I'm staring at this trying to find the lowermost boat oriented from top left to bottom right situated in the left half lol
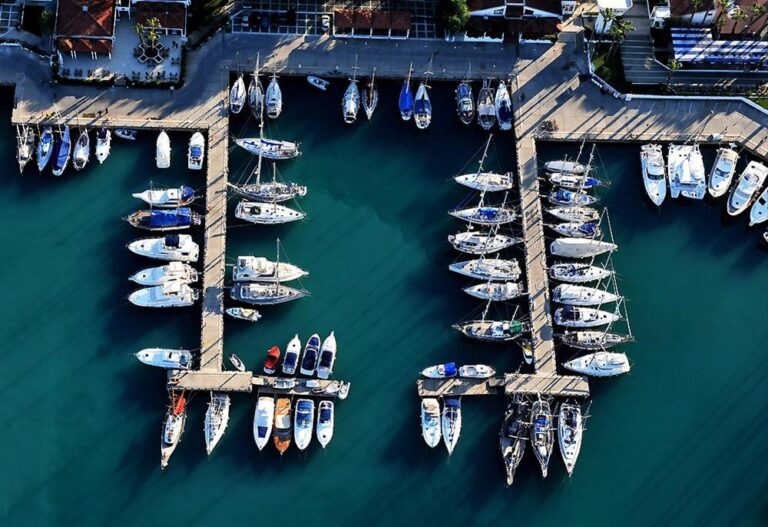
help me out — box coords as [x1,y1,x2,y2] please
[228,353,245,370]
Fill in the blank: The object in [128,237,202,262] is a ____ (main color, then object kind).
white boat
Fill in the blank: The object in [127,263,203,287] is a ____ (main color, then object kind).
white boat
